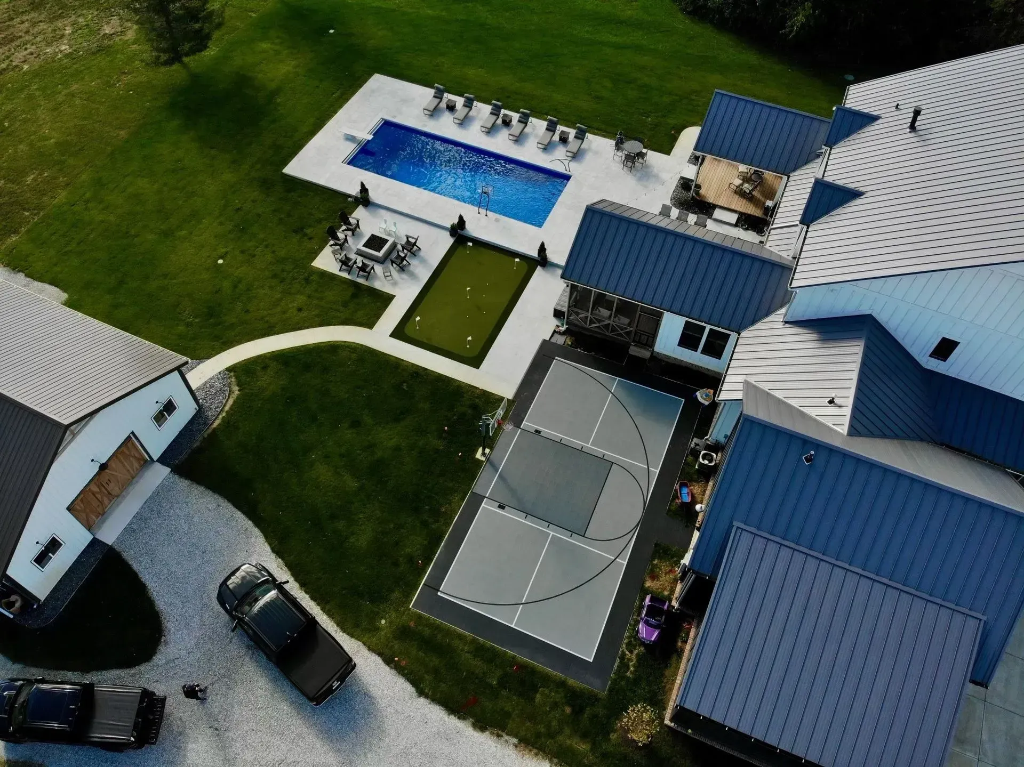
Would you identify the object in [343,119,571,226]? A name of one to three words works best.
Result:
swimming pool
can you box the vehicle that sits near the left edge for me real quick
[0,663,173,751]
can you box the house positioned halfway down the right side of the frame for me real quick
[555,40,1024,767]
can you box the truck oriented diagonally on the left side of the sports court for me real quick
[217,559,362,713]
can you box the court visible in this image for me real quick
[406,340,699,693]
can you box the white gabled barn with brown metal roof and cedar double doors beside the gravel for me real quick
[0,282,200,621]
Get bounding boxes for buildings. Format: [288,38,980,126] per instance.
[555,40,1024,767]
[0,282,200,621]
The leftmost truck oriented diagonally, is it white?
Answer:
No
